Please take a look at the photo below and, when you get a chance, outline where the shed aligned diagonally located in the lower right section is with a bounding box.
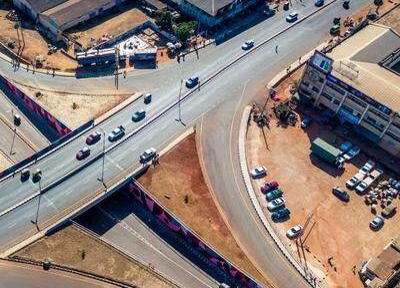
[360,242,400,284]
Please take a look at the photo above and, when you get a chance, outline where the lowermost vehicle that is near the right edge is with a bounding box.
[369,215,385,229]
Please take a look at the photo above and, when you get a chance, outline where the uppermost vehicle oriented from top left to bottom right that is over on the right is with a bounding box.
[312,132,345,164]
